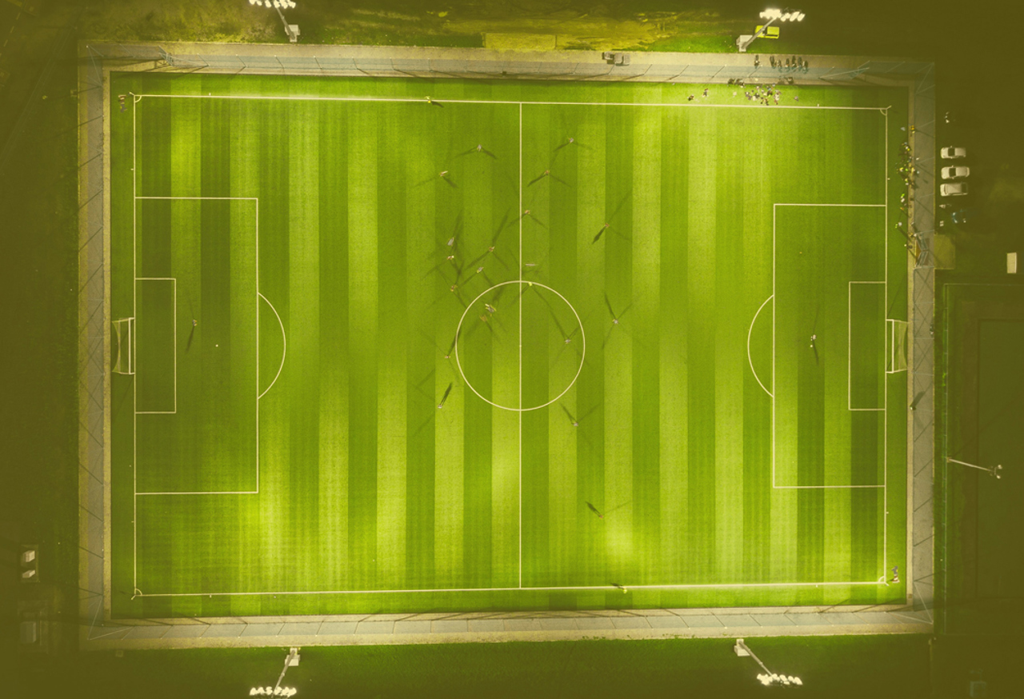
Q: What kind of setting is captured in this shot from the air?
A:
sports ground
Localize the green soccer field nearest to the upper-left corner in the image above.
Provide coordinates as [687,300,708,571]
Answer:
[110,71,908,620]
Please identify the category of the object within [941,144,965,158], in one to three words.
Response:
car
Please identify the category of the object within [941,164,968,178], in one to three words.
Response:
car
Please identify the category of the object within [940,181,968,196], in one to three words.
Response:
vehicle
